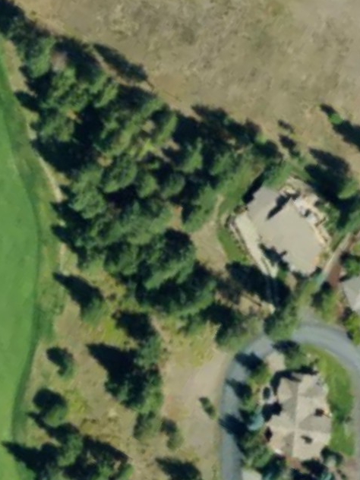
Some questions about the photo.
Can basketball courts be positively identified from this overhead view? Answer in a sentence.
No, there appears to be no basketball court in this shot.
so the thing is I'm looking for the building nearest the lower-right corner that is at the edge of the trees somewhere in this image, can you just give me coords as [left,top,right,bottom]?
[261,352,334,465]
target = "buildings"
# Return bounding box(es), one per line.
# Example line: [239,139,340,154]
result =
[261,352,334,465]
[245,185,333,283]
[334,274,360,312]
